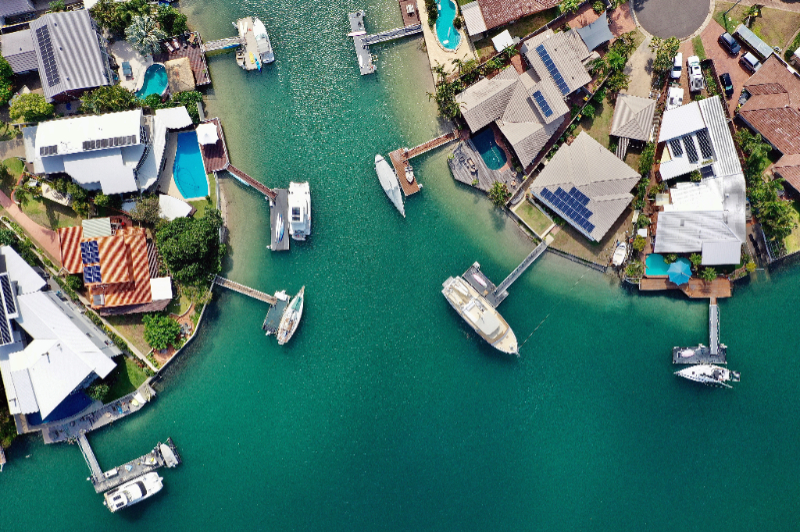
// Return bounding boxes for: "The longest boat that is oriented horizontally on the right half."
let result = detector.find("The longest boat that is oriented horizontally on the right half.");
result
[674,365,738,384]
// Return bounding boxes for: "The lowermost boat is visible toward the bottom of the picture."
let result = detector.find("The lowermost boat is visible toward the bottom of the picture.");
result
[102,473,165,512]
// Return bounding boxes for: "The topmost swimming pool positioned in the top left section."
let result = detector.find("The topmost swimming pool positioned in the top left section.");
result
[134,62,170,101]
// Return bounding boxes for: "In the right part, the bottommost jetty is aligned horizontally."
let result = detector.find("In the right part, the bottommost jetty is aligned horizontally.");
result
[672,345,727,364]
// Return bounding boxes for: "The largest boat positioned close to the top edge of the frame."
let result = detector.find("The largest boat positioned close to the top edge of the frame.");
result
[254,19,277,66]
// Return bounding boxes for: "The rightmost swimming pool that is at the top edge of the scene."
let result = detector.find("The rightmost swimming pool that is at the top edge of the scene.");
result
[433,0,464,55]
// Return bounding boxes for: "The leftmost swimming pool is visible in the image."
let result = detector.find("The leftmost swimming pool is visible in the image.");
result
[21,385,96,427]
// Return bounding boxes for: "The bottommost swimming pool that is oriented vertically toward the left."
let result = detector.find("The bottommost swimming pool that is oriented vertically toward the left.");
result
[172,129,211,200]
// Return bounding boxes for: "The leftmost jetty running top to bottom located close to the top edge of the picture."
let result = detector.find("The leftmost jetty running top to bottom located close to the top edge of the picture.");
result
[232,16,263,72]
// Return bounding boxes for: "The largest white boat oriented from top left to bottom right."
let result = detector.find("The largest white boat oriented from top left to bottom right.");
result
[439,274,521,355]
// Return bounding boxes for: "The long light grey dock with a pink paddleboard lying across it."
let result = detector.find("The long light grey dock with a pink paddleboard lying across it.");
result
[348,8,378,76]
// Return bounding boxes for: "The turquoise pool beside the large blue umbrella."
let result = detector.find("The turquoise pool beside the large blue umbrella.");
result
[644,252,692,278]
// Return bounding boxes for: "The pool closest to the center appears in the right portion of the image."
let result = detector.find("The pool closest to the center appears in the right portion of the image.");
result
[474,130,508,173]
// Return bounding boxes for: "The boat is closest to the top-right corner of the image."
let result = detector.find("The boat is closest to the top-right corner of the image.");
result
[610,243,626,266]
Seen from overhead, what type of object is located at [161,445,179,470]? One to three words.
boat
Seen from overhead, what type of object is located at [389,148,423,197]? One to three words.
pier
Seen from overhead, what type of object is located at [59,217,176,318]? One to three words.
house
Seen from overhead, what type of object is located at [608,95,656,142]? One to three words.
gazebo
